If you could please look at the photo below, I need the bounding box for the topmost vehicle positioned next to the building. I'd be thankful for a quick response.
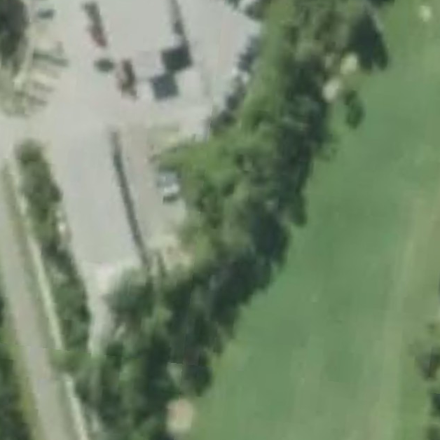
[85,0,99,22]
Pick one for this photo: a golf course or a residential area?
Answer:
golf course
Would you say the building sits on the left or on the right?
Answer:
left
